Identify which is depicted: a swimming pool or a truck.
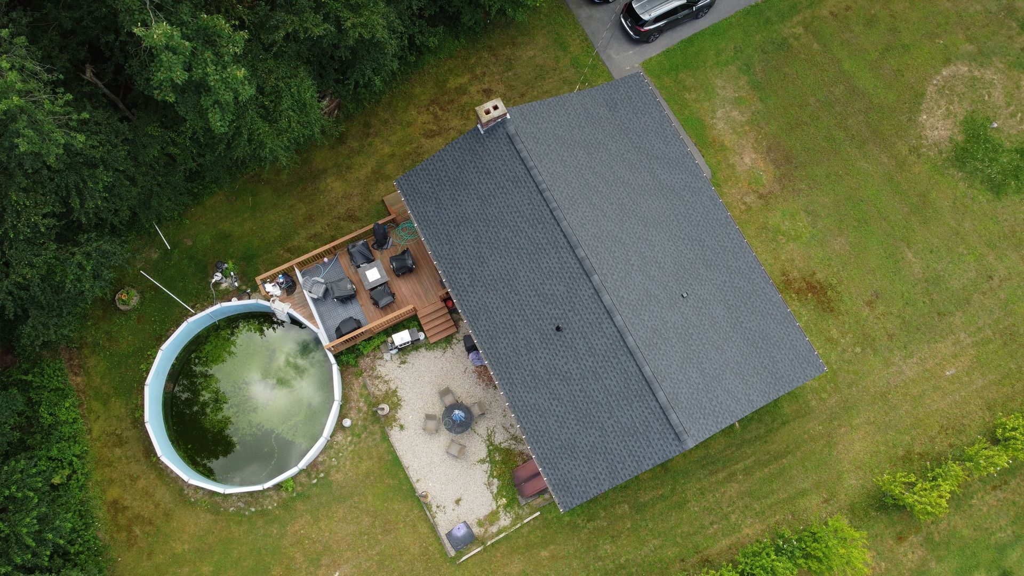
swimming pool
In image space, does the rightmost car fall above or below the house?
above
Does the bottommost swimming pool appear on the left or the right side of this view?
left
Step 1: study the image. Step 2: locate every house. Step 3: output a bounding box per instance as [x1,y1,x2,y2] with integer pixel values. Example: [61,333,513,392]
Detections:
[394,71,827,514]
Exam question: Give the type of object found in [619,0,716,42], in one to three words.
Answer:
car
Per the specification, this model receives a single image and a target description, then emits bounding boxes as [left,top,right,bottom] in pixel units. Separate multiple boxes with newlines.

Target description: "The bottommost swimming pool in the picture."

[145,298,347,495]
